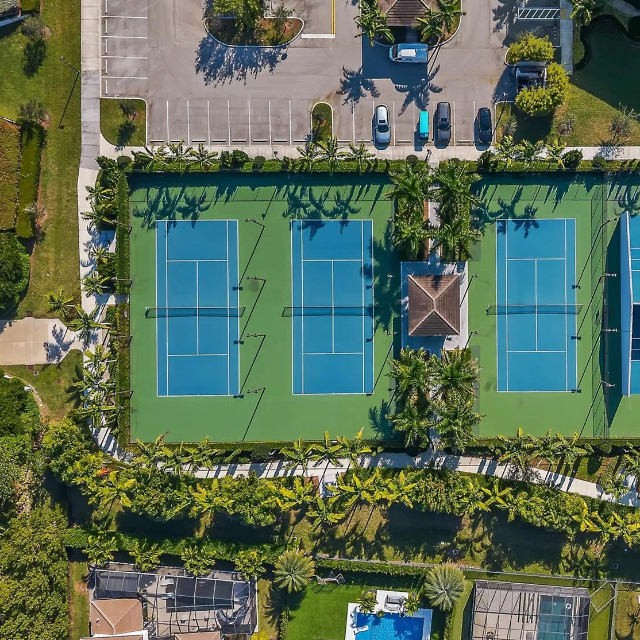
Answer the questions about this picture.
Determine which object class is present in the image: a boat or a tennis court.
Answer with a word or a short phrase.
tennis court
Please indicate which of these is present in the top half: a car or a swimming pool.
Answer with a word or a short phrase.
car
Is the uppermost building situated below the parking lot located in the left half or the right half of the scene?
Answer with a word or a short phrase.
right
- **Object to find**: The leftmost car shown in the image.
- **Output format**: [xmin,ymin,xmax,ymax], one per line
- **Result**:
[373,107,391,146]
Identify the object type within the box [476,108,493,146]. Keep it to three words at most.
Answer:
car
